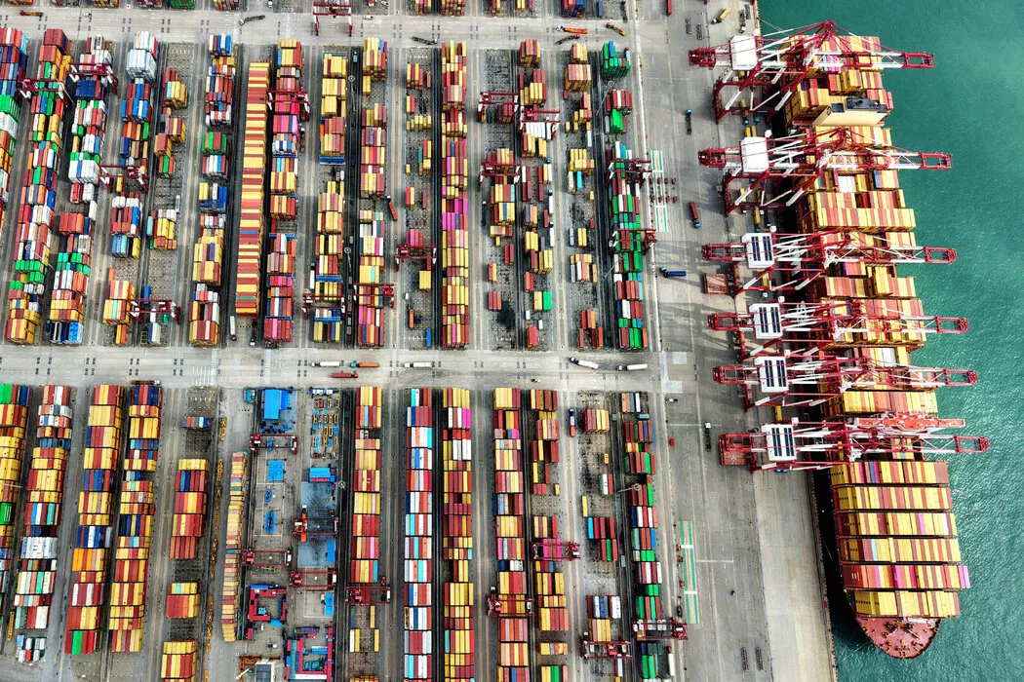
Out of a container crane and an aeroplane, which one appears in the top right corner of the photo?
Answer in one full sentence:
What appears in the top right corner of the photo is a container crane.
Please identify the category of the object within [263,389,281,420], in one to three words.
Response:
shed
